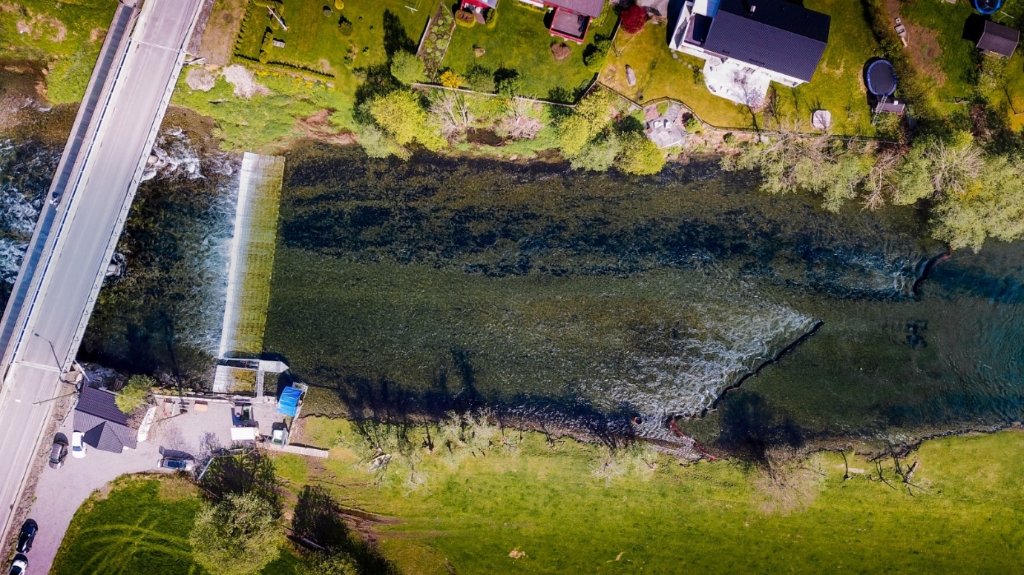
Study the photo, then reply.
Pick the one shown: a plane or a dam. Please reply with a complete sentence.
The image shows a dam.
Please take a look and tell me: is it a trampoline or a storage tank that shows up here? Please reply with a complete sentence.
It is a trampoline that can be seen here.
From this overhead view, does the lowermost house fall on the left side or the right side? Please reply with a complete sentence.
It is on the left.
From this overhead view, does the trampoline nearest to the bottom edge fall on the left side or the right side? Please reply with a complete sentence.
The trampoline nearest to the bottom edge sits on the right side.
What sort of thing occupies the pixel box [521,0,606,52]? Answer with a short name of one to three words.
house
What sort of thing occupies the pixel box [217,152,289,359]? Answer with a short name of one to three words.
dam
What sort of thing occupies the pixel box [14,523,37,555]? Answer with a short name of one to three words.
car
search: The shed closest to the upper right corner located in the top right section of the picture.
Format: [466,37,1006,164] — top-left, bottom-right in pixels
[969,20,1021,60]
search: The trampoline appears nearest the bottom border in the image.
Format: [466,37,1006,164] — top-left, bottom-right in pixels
[865,59,896,96]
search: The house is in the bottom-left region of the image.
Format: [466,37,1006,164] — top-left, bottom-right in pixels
[73,386,148,454]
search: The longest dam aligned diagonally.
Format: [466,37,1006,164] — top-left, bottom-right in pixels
[667,318,825,424]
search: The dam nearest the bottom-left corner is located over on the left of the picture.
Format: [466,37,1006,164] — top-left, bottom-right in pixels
[212,364,261,395]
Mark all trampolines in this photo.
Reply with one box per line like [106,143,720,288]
[865,59,896,96]
[969,0,1002,17]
